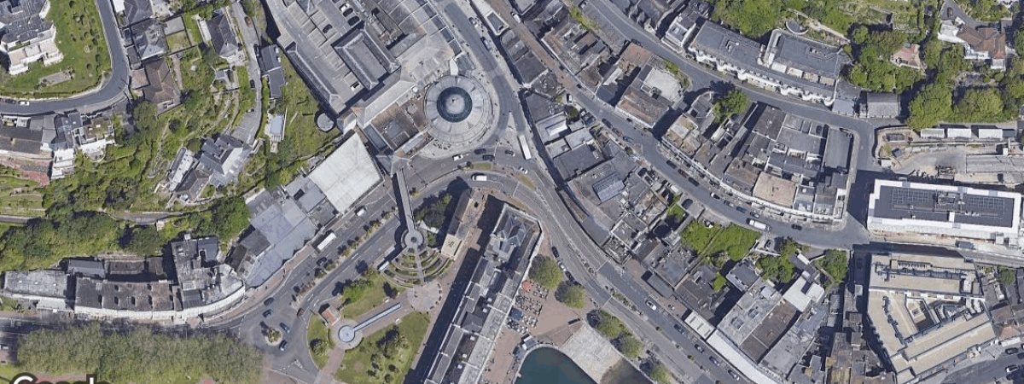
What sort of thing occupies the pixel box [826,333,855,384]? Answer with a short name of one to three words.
house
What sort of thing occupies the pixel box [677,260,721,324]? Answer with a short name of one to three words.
building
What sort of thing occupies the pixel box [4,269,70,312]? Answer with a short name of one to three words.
building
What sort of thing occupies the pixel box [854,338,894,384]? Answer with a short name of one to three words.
house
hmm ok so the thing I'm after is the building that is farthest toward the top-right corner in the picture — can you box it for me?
[938,23,1005,68]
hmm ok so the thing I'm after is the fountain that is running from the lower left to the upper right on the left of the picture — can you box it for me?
[333,301,401,350]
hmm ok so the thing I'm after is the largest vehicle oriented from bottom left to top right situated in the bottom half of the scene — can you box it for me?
[318,233,335,249]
